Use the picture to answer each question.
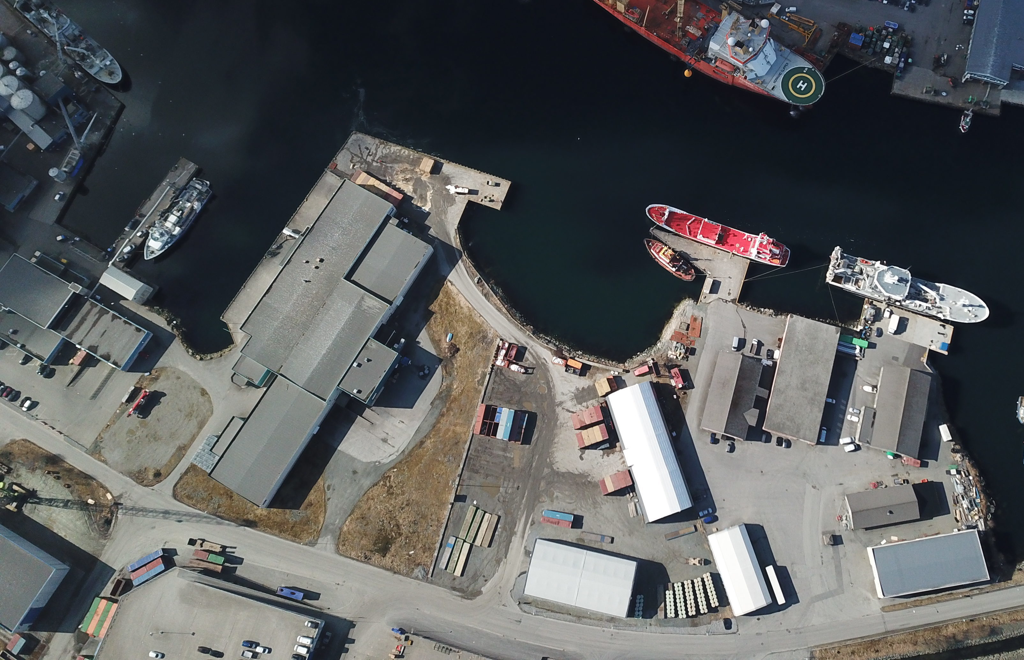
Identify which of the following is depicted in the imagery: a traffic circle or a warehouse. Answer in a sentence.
This aerial view contains a warehouse.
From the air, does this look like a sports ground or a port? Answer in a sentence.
It's a port.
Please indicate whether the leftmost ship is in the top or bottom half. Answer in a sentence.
It is in the top half that the leftmost ship appears.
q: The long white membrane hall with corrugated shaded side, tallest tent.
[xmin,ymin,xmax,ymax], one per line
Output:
[607,382,692,523]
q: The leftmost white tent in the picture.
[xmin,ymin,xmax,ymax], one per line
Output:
[524,539,637,618]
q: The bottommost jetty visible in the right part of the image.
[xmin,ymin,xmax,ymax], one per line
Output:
[856,297,955,356]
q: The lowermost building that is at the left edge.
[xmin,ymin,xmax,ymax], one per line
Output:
[0,524,69,633]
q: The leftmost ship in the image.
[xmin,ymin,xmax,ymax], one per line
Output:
[9,0,125,88]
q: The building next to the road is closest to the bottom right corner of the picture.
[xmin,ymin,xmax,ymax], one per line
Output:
[864,530,990,598]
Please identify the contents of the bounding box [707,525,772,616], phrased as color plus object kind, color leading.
white tent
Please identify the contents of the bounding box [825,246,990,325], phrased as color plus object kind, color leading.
white ship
